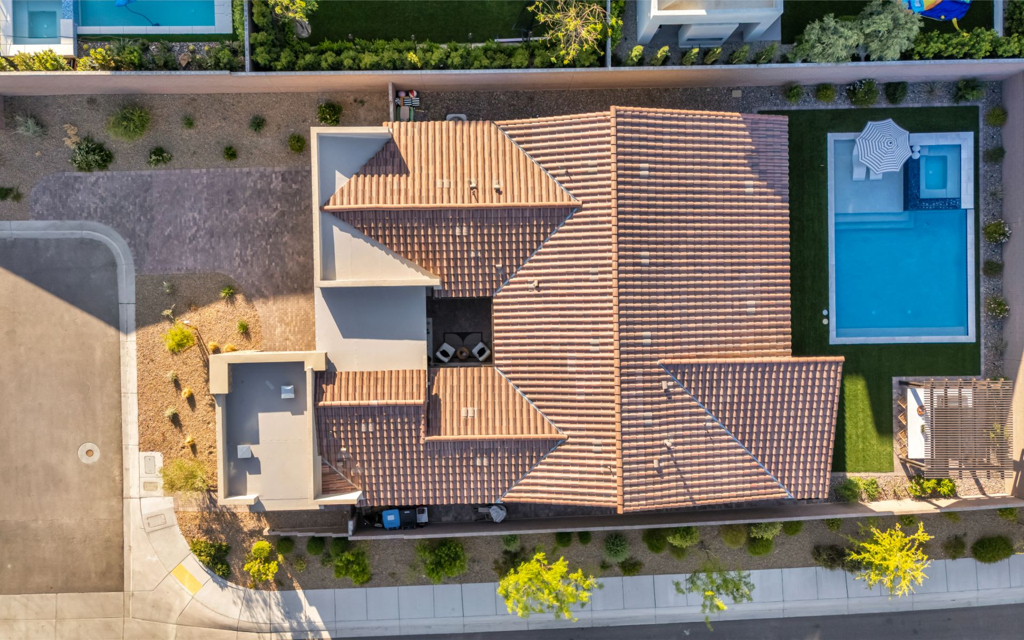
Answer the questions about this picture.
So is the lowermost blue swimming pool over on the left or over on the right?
right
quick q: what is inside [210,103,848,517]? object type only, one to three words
house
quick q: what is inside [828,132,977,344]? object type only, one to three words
swimming pool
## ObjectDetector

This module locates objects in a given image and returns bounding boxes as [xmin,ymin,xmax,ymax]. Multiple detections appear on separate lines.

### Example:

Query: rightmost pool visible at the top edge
[78,0,233,33]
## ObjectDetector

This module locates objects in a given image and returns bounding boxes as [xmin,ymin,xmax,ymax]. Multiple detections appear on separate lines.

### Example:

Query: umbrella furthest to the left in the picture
[857,118,912,175]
